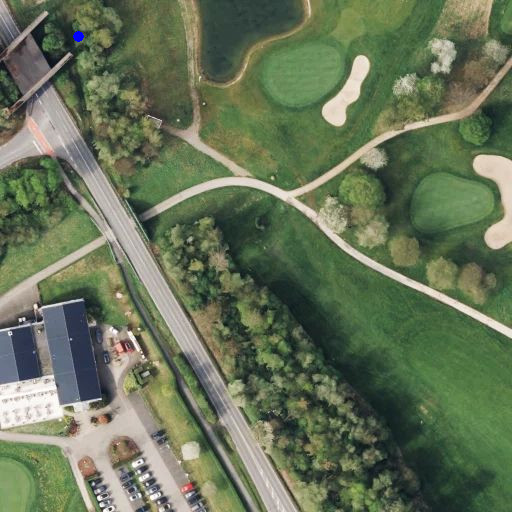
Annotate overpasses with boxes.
[0,12,73,116]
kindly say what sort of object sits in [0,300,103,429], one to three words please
building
